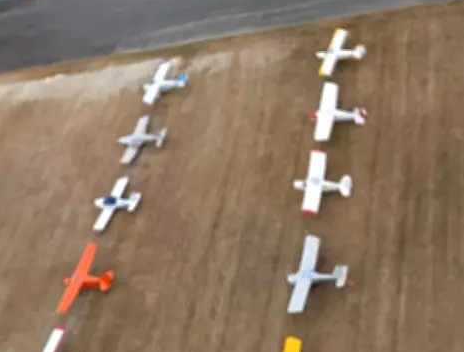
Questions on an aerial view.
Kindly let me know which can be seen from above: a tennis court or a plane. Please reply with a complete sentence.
It is a plane that can be seen here.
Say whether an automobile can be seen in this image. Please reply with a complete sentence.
No, there is no automobile in the image.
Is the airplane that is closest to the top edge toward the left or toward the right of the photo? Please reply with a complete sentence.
It is on the right.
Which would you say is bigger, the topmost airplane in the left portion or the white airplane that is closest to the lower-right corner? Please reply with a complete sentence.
The white airplane that is closest to the lower-right corner is bigger than the topmost airplane in the left portion.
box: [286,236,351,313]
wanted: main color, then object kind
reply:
white airplane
